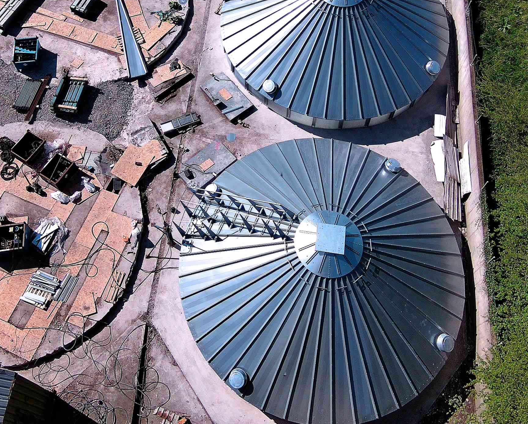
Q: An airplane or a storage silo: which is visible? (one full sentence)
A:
Visible in the photo is a storage silo.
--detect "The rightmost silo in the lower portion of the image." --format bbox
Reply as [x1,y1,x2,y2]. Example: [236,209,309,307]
[171,135,470,424]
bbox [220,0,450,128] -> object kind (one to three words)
silo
